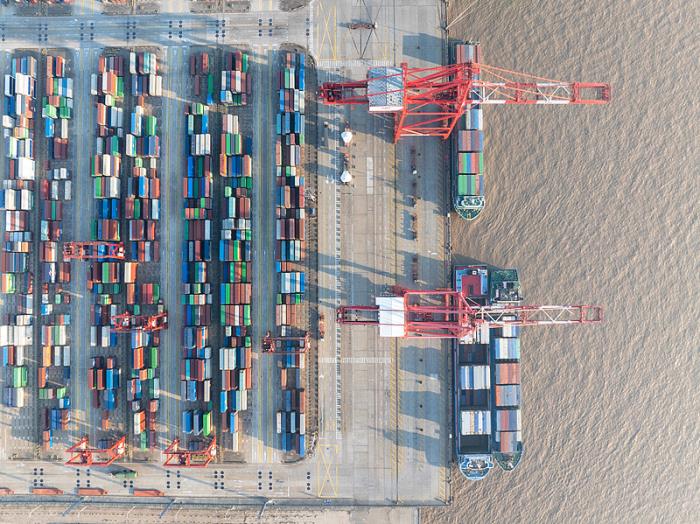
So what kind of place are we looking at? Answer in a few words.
port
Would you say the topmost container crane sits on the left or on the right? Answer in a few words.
right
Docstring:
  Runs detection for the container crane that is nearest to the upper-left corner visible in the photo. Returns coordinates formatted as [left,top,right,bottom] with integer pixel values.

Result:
[65,240,129,263]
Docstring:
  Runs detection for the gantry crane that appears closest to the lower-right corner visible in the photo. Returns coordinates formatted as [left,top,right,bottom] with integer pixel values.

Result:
[336,280,604,342]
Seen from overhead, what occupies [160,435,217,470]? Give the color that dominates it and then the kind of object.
red container crane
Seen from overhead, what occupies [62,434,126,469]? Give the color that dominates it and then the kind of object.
red container crane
